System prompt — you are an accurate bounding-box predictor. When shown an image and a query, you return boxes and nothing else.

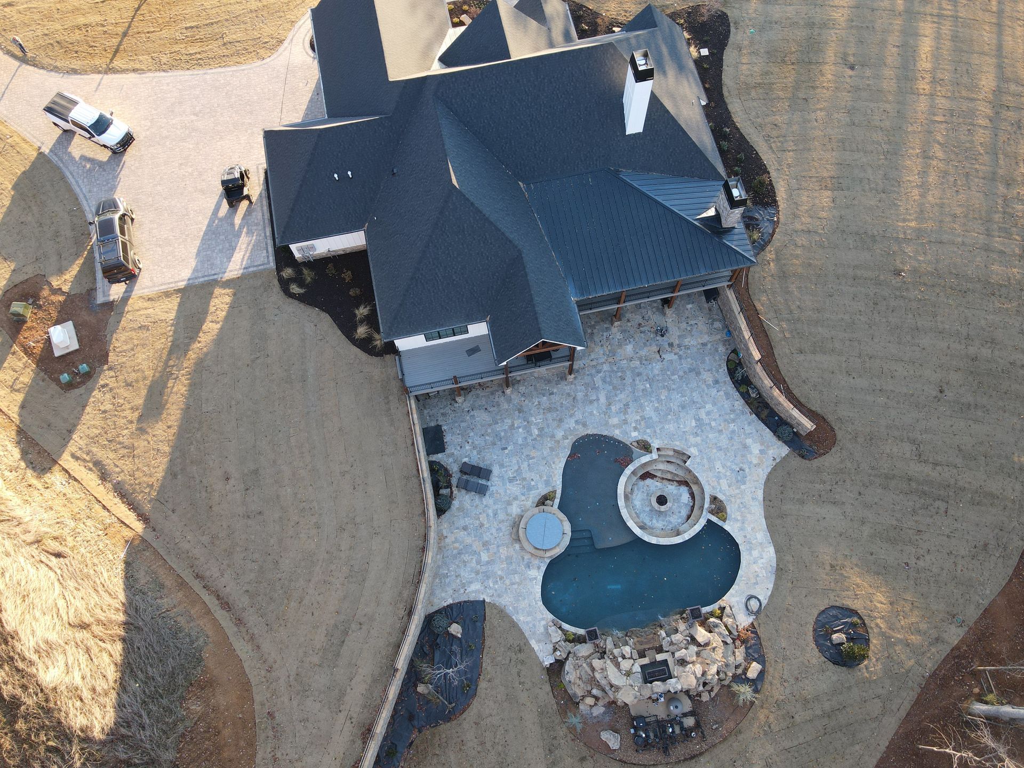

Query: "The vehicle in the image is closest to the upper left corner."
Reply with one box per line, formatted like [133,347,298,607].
[43,93,135,157]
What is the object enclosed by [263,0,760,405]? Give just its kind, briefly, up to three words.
house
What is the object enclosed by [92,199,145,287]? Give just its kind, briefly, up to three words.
car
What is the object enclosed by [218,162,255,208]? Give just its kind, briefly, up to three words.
vehicle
